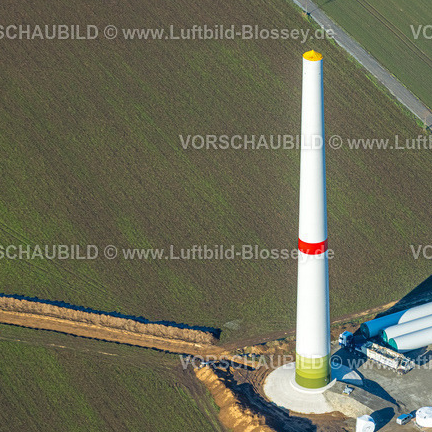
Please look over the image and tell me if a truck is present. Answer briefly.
Yes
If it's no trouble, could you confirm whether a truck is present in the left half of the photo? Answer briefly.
No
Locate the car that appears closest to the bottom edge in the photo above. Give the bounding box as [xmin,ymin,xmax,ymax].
[394,411,415,426]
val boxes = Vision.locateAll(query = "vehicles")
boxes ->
[394,411,415,426]
[337,331,415,372]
